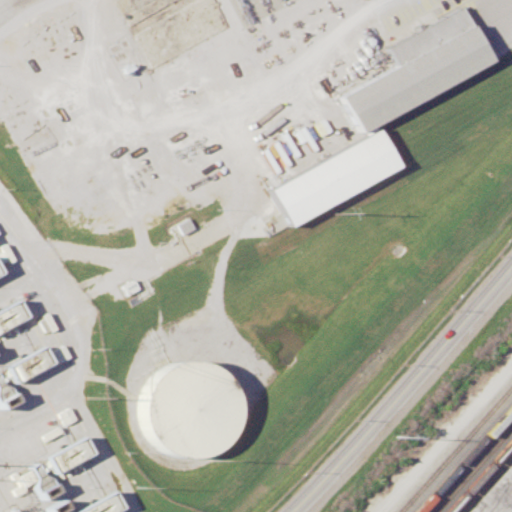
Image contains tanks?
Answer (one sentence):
Yes, the picture does show a tank.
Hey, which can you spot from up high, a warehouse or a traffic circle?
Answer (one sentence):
Of the two, only a warehouse appears.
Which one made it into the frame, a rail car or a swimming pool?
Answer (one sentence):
This aerial view contains a rail car.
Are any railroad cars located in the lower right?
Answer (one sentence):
Yes, a railroad car appears in the lower right.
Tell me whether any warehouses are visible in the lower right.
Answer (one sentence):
No, no warehouse appears in the lower right.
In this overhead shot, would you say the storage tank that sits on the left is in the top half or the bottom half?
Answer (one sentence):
It is in the bottom half that the storage tank that sits on the left appears.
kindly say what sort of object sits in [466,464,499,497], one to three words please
rail car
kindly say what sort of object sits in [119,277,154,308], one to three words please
shed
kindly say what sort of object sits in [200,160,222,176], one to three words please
vehicle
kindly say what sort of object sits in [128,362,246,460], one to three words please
storage tank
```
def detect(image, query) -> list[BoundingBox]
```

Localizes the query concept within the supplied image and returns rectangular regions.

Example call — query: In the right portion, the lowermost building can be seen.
[268,130,406,228]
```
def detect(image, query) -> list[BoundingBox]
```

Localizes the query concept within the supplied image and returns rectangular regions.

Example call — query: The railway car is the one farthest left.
[414,492,440,512]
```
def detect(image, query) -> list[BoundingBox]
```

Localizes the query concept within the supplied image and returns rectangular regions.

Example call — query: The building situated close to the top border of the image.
[339,8,500,131]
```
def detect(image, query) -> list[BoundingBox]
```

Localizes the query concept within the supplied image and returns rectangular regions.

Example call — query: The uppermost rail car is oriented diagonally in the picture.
[488,406,512,438]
